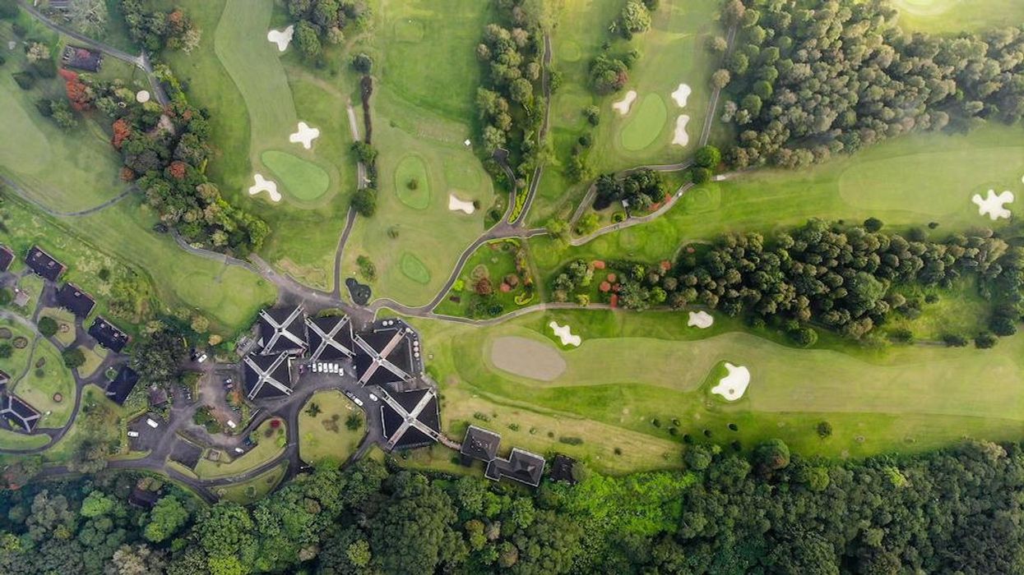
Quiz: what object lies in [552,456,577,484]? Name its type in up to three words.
shed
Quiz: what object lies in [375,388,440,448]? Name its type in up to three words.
building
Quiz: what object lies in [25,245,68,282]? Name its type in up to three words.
house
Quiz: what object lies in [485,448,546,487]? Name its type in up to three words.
building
